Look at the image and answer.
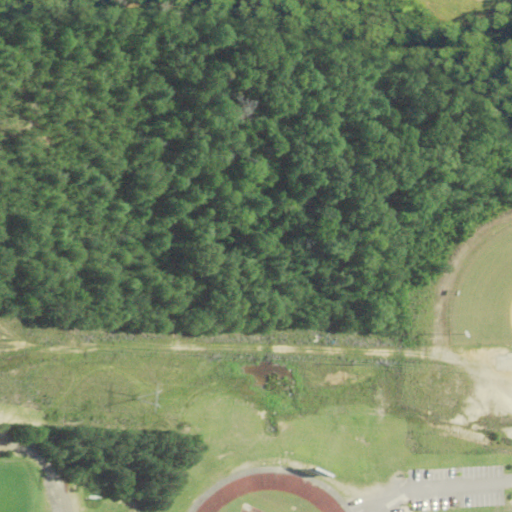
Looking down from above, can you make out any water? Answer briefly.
No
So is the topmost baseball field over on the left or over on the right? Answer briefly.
right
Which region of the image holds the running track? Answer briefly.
bottom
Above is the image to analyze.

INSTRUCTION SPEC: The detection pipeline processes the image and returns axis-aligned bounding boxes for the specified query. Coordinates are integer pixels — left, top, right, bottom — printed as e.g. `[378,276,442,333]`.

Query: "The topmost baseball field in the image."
[436,218,512,353]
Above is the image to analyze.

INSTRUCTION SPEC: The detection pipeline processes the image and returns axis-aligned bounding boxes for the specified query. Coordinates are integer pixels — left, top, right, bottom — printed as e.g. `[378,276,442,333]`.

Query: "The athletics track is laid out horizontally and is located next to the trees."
[192,467,347,512]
